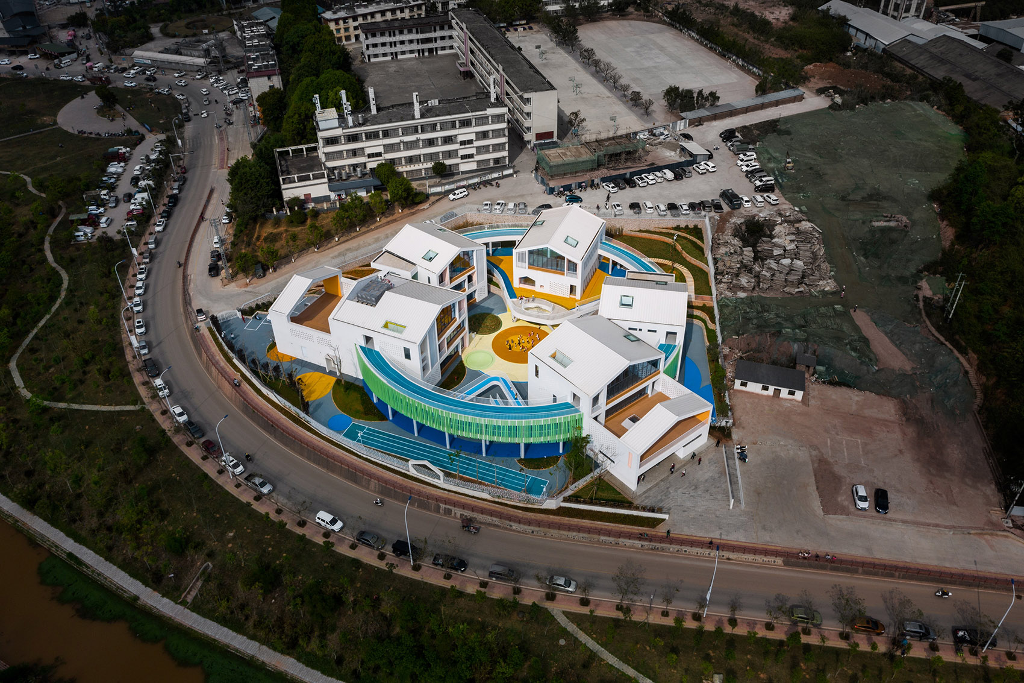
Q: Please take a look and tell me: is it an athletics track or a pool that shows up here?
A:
athletics track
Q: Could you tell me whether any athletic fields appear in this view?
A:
Yes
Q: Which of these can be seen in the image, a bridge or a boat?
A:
bridge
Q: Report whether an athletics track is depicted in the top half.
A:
No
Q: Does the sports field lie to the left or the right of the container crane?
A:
to its left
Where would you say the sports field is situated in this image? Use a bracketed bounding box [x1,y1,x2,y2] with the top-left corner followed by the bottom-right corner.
[578,20,758,113]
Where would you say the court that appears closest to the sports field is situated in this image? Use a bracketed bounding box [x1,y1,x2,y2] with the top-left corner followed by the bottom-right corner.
[506,27,645,142]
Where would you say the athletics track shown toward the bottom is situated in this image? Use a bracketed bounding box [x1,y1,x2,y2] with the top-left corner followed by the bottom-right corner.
[342,422,548,497]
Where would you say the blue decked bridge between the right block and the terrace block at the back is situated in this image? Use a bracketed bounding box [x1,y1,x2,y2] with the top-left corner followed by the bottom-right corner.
[599,237,661,273]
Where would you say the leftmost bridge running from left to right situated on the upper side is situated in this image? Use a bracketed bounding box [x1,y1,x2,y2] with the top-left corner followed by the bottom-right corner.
[454,224,532,250]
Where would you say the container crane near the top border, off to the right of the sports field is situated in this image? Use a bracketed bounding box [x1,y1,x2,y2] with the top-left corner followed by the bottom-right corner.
[936,0,987,30]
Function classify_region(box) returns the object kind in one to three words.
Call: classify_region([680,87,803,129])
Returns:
shed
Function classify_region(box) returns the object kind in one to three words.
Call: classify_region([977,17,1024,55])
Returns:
building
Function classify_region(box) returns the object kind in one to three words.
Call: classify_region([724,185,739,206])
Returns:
car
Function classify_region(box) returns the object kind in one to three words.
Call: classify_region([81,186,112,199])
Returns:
vehicle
